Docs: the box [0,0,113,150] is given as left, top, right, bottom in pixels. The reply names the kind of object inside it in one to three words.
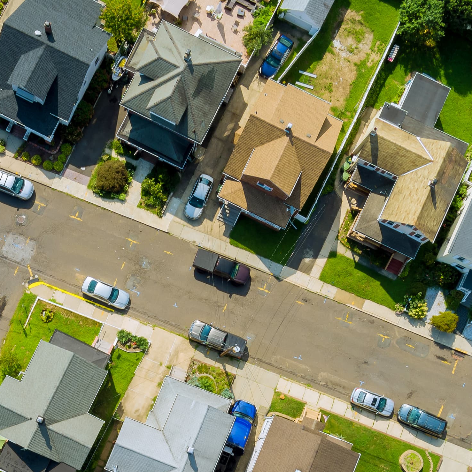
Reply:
house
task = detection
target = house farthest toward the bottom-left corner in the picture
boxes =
[0,328,111,472]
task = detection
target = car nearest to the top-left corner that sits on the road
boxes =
[0,170,35,201]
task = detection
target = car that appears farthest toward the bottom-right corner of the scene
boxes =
[395,405,450,438]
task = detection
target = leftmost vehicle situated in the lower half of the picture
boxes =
[80,277,131,309]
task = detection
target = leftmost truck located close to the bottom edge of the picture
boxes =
[216,395,261,472]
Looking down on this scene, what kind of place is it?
residential area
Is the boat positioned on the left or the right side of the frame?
left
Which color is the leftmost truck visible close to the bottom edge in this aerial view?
blue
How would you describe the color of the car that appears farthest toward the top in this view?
blue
